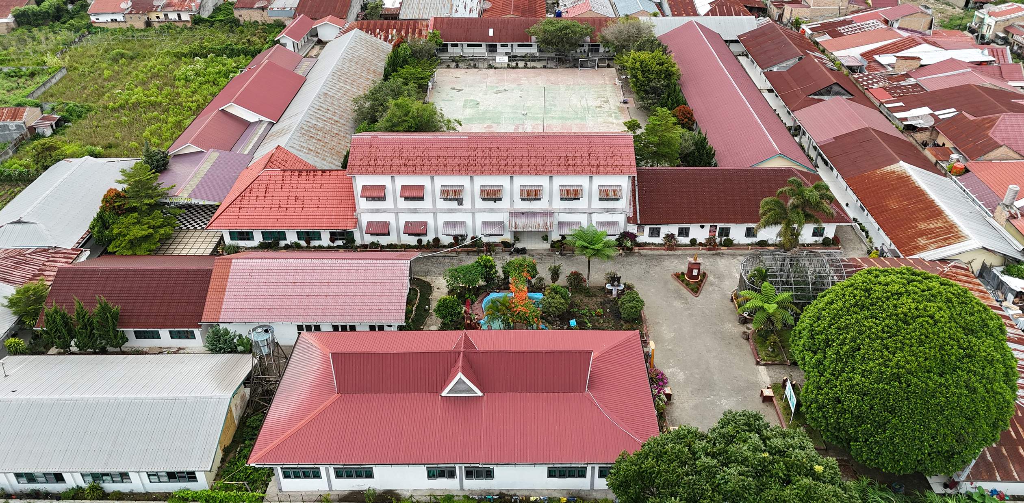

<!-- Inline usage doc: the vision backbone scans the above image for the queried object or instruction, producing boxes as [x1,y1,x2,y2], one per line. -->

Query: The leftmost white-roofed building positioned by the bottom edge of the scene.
[0,354,255,490]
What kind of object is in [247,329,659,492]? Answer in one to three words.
building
